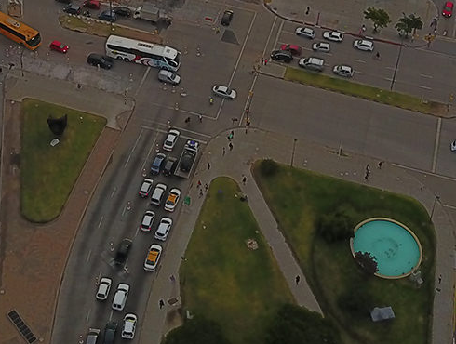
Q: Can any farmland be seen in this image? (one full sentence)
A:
No, no farmland is visible.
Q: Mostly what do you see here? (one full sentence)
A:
The largest share of the image is taken up by paved ground.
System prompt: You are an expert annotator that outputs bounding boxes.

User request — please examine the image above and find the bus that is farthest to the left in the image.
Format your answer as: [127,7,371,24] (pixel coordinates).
[0,6,40,48]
